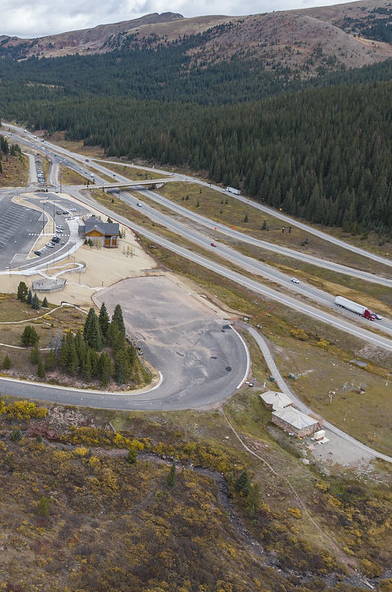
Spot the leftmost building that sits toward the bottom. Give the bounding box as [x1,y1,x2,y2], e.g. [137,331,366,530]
[260,390,293,412]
